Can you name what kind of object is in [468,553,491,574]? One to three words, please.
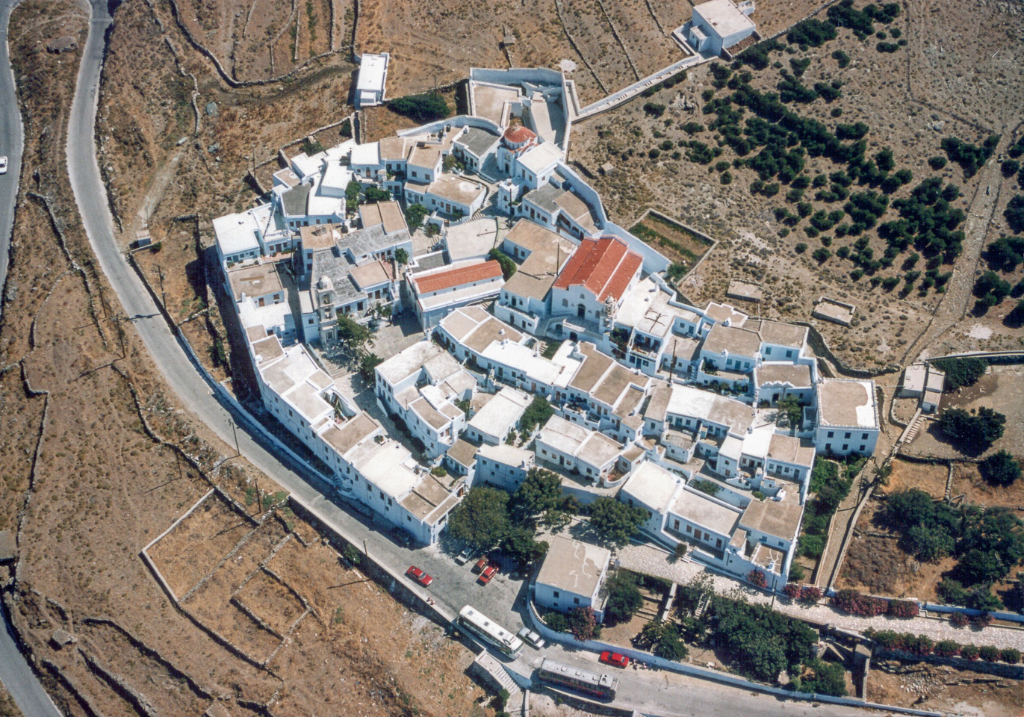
car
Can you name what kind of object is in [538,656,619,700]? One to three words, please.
bus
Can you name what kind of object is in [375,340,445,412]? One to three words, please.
house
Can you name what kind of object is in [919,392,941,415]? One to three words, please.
building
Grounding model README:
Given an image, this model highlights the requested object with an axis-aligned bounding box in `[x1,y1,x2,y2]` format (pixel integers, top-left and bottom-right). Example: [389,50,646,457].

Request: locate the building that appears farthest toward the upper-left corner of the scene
[47,36,79,57]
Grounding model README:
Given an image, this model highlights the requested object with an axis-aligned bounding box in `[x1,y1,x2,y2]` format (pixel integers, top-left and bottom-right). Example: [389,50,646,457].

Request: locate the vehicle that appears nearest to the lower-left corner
[405,567,435,586]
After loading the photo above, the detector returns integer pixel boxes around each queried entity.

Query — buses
[457,604,528,662]
[538,656,619,700]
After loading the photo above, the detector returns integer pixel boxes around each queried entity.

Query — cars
[599,651,629,667]
[451,546,477,566]
[468,553,491,574]
[405,567,435,586]
[476,562,501,585]
[516,629,548,650]
[0,158,7,173]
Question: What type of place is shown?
residential area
